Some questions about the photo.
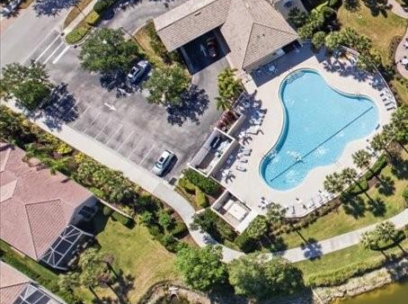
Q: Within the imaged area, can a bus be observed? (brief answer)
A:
No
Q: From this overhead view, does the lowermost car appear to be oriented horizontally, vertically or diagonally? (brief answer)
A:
diagonally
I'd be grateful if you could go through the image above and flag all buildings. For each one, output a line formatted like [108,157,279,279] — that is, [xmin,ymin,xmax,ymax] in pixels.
[0,262,36,304]
[0,134,96,261]
[155,0,304,68]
